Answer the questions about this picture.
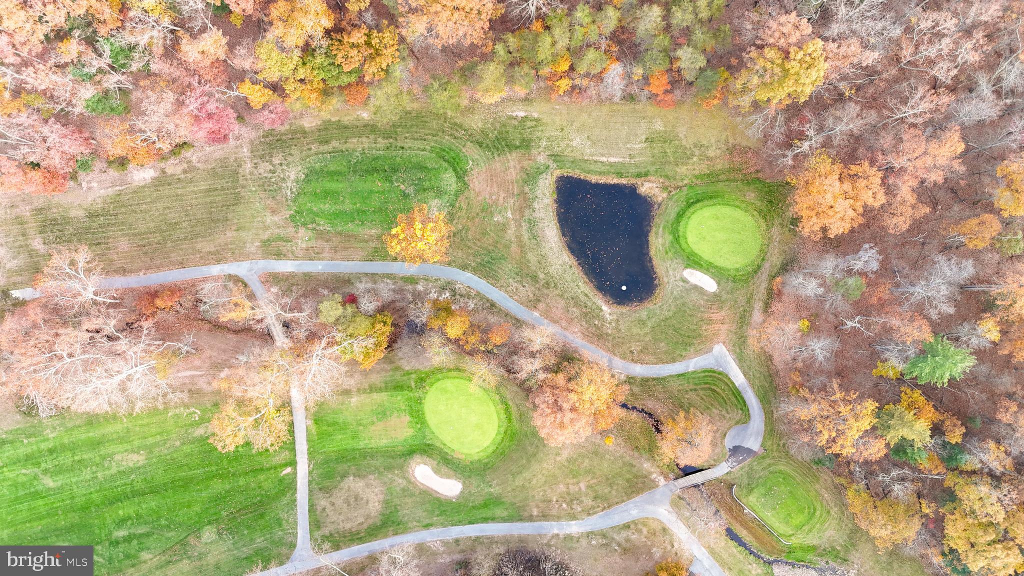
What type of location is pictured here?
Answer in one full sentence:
What you see here is a golf course.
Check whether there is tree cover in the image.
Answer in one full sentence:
Yes, tree cover shows up in the scene.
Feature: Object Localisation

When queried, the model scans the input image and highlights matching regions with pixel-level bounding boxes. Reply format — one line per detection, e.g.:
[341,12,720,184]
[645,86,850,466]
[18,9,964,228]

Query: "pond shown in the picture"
[553,173,657,305]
